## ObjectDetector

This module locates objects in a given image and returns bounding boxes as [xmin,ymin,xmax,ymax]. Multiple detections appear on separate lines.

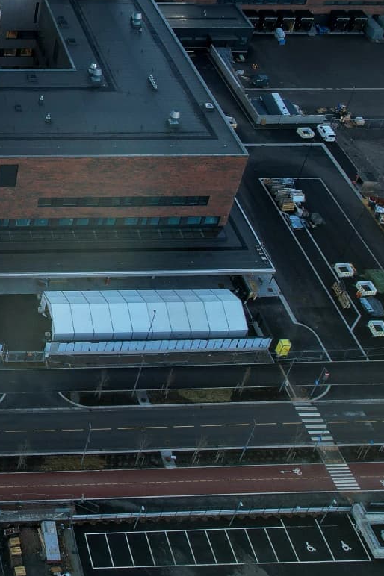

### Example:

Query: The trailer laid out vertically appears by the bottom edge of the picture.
[44,519,65,564]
